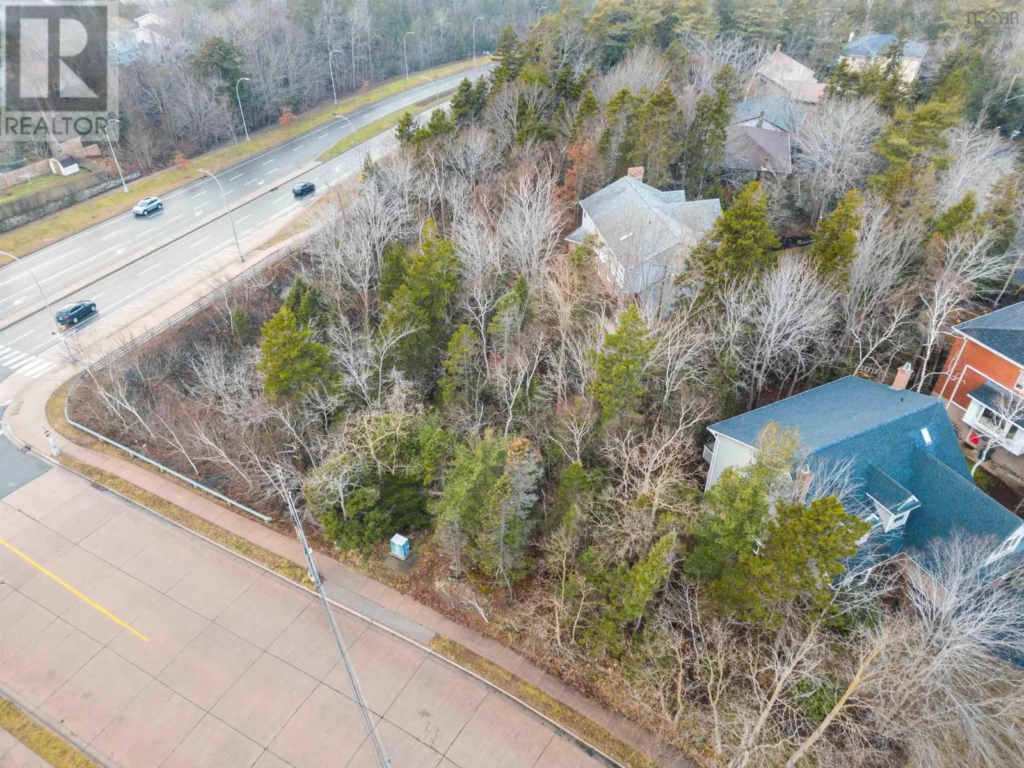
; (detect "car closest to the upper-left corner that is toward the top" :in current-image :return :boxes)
[131,197,164,218]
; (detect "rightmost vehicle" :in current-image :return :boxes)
[289,184,316,200]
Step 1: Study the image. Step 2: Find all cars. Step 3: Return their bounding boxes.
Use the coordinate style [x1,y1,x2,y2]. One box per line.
[131,197,164,218]
[289,184,316,200]
[53,304,99,329]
